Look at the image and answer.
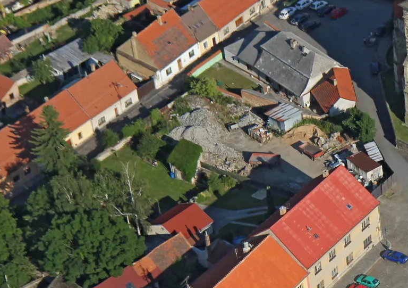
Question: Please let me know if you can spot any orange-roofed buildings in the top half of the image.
Yes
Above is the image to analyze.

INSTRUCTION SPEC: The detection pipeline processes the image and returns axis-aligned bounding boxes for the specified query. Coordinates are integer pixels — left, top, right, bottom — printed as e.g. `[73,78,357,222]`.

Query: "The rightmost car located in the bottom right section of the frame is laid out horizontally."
[380,251,408,265]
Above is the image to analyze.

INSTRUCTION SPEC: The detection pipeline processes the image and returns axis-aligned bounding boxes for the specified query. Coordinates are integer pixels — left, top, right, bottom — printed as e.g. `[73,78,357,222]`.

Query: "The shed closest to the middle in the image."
[166,133,202,181]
